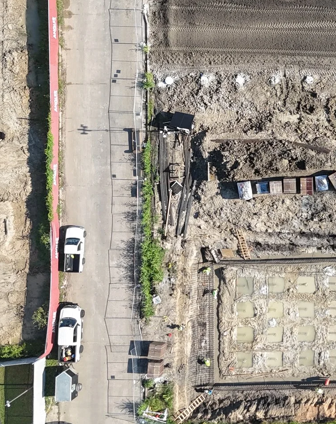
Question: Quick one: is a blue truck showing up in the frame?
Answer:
No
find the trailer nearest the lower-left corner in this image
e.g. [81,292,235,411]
[53,362,83,409]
